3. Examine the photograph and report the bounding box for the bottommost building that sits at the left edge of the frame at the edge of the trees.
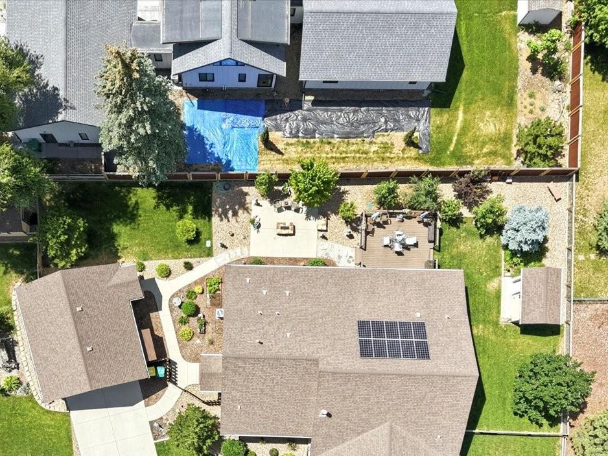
[14,261,151,404]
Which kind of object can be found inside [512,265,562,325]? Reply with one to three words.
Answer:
shed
